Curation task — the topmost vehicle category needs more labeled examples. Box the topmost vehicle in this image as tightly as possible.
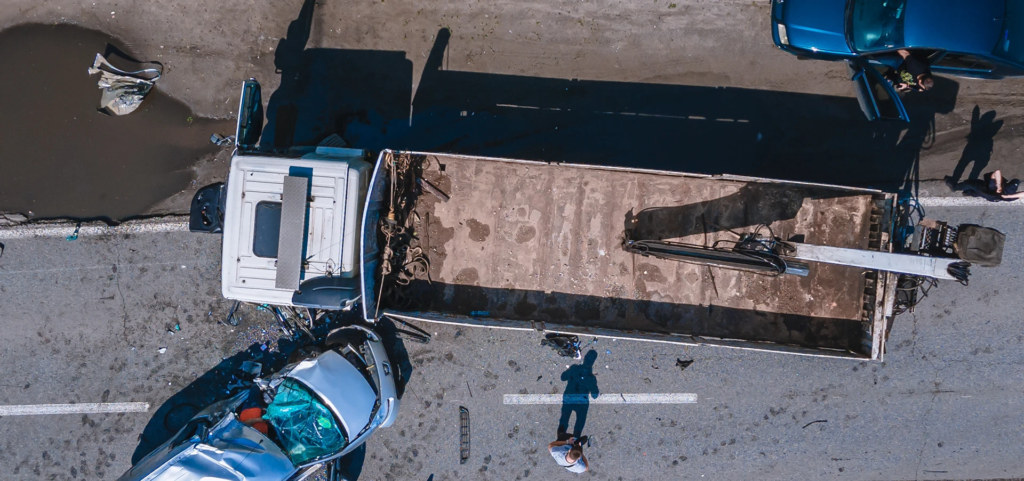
[767,0,1024,121]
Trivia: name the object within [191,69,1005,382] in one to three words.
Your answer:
truck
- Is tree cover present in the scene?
No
